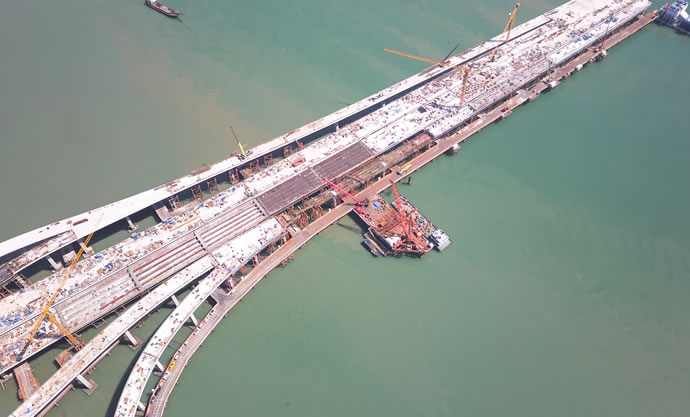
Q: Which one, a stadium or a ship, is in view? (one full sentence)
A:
Visible in the photo is a ship.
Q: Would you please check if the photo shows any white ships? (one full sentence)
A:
Yes, the image includes a white ship.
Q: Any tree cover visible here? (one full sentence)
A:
No, the scene doesn't show any tree cover.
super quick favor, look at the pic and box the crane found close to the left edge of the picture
[16,216,103,362]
